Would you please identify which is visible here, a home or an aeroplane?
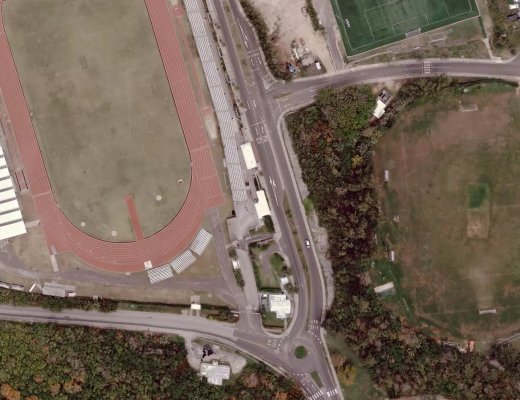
home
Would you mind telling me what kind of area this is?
sports ground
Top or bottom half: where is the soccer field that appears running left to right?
top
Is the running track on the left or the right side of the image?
left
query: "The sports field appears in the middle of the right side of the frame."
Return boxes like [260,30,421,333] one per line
[373,83,520,346]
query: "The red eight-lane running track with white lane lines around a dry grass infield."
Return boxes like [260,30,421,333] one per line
[0,0,226,273]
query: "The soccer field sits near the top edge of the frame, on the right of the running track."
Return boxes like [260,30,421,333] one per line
[329,0,481,59]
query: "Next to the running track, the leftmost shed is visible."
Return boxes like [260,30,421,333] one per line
[43,282,75,296]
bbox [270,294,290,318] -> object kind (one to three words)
house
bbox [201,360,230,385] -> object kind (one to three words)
house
